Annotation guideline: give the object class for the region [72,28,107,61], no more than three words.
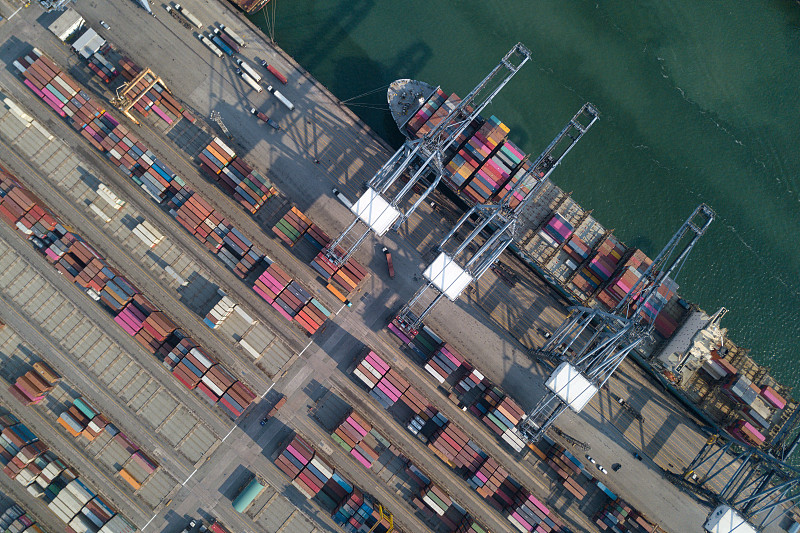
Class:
shed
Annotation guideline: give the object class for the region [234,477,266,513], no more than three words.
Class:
shed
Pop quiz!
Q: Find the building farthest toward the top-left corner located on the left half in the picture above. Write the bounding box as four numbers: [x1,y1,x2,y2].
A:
[48,6,87,42]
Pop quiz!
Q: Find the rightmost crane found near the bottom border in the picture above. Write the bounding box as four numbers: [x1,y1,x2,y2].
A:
[652,405,800,533]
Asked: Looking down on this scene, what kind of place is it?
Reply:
port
